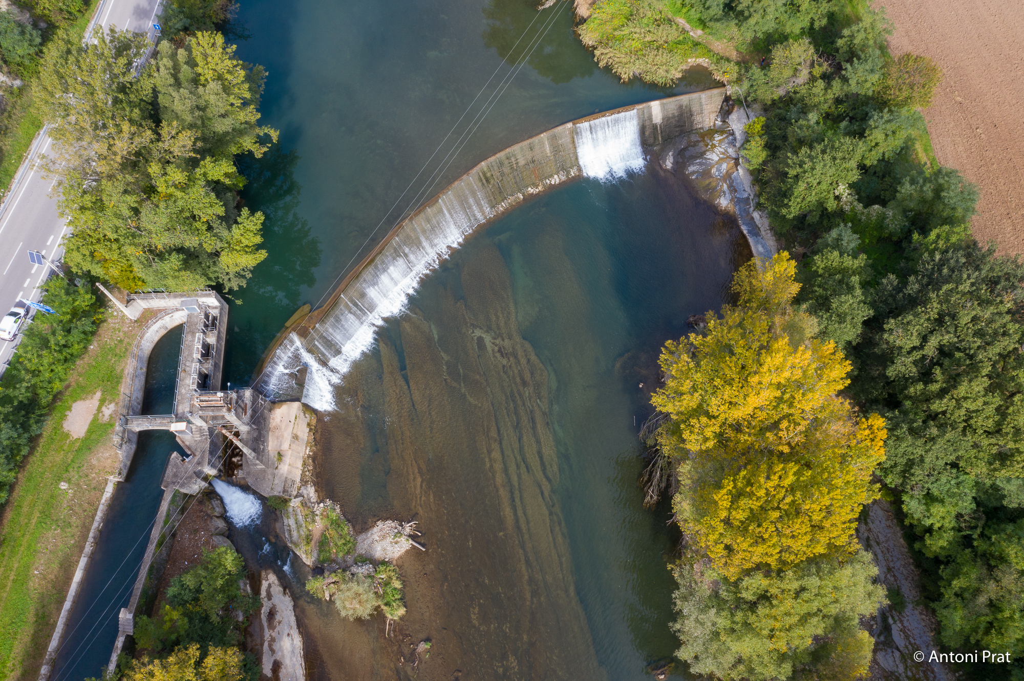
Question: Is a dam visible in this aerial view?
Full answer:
Yes, a dam can be made out from above.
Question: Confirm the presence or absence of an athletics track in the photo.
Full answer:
No, the photo shows no athletics track.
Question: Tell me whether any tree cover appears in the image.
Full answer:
Yes, tree cover can be seen from above here.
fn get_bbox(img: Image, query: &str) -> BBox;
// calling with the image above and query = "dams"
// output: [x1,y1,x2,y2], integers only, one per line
[305,86,726,360]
